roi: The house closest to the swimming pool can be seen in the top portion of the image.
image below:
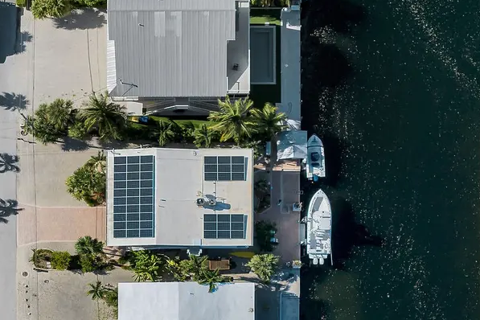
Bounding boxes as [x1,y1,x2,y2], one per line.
[107,0,251,119]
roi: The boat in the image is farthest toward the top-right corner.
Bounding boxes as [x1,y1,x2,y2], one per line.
[306,131,326,185]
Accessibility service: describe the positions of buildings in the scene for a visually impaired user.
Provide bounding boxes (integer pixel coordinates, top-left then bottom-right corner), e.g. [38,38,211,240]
[107,149,253,255]
[118,284,255,320]
[107,0,251,119]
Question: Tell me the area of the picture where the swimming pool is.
top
